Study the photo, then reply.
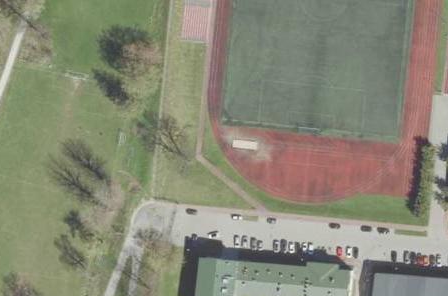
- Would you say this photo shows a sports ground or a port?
sports ground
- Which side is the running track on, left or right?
right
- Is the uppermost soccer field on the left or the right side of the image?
right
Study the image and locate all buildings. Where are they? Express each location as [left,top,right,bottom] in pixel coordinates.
[373,272,448,296]
[196,257,355,296]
